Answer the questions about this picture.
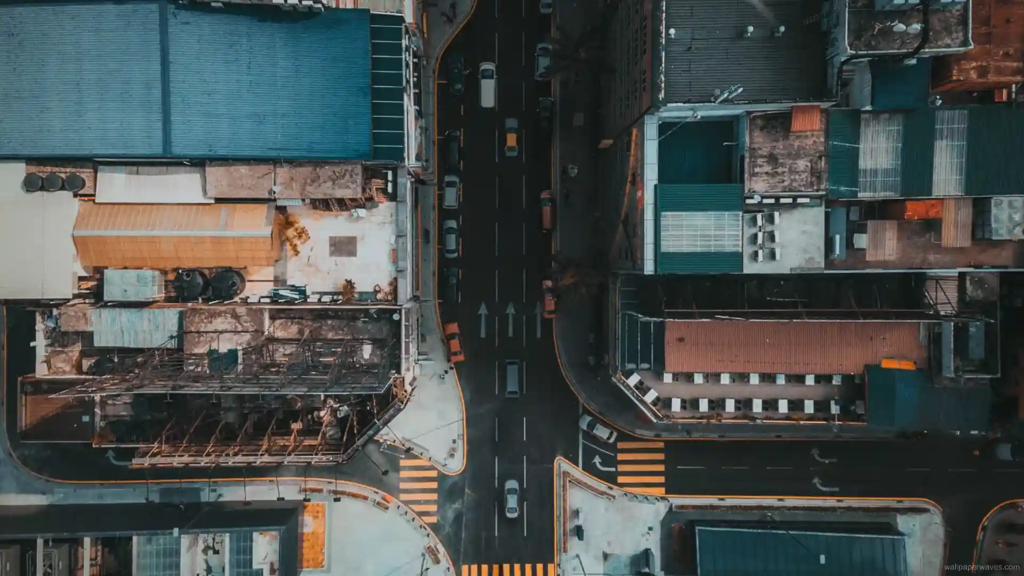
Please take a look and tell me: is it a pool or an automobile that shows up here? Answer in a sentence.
Looking from above, you can make out an automobile.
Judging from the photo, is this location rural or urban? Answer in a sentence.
It looks urban.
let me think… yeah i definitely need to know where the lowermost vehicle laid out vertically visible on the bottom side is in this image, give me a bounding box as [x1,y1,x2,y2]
[502,479,521,518]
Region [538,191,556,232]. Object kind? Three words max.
vehicle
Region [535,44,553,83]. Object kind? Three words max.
car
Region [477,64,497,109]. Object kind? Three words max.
vehicle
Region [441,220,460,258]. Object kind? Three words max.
car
